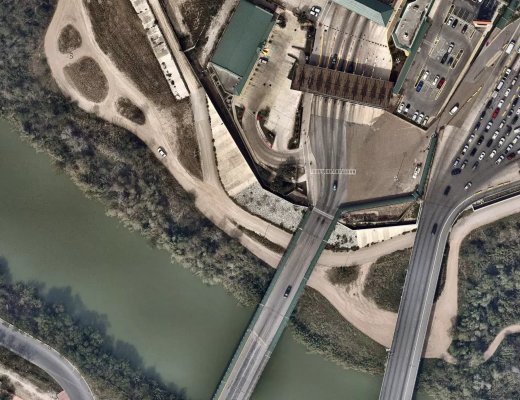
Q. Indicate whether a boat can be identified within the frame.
No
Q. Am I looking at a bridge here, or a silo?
bridge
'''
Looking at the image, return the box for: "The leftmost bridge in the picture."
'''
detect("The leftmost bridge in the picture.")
[213,208,341,400]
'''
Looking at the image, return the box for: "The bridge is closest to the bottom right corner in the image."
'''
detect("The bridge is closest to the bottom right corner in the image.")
[379,178,520,400]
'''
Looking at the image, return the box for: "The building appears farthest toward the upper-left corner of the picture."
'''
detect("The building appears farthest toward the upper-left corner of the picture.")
[210,0,273,94]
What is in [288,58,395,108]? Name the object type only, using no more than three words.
toll station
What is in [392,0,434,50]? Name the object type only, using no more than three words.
building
